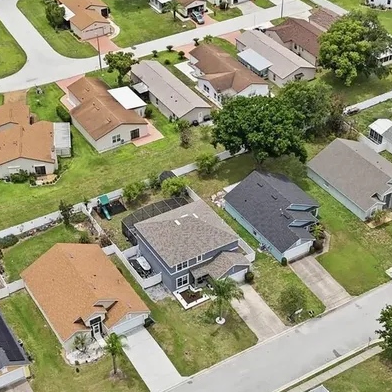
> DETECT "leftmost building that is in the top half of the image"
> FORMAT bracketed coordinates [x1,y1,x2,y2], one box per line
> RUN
[0,103,74,179]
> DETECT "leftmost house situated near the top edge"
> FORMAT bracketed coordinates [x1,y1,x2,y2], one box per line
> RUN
[49,0,108,40]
